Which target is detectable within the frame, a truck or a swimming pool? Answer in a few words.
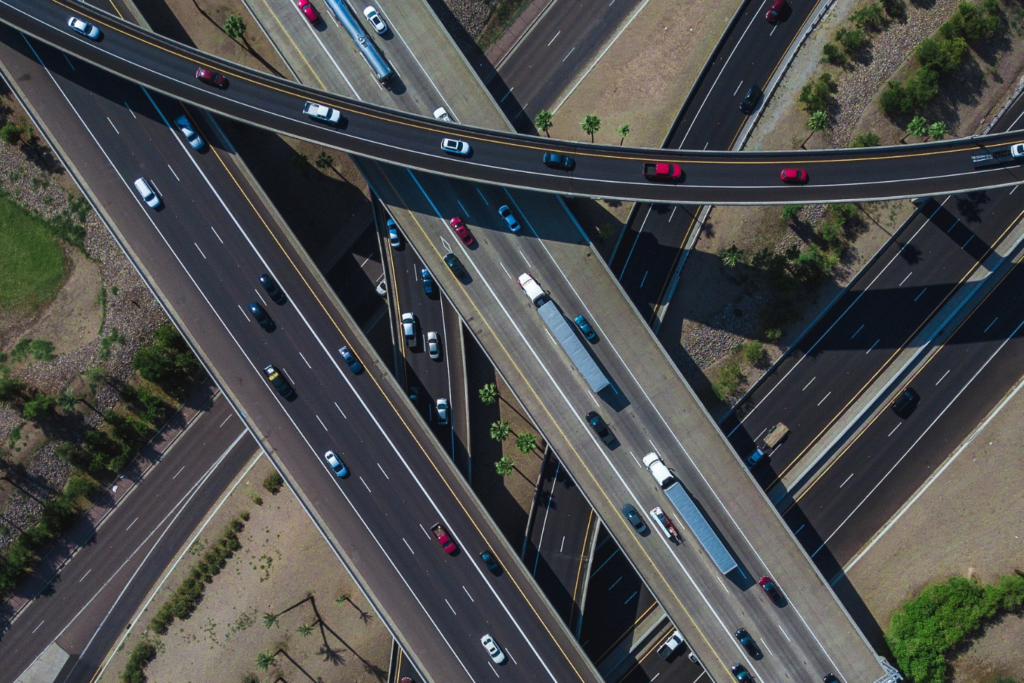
truck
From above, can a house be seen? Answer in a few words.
No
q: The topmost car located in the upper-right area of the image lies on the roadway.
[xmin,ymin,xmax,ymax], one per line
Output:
[764,0,786,24]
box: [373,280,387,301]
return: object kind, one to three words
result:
car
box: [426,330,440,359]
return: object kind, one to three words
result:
car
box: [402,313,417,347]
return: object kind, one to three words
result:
vehicle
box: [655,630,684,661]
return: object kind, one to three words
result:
truck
